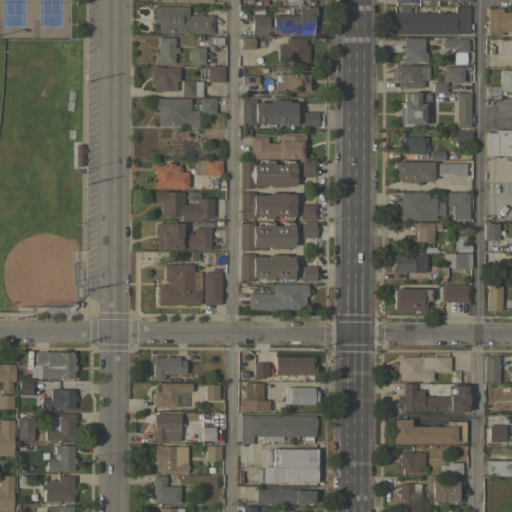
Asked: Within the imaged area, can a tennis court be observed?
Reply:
Yes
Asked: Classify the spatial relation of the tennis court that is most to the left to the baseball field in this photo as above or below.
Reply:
above it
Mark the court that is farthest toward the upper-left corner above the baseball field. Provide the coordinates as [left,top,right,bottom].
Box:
[2,0,28,28]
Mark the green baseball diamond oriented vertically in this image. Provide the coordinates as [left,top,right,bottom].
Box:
[0,41,83,306]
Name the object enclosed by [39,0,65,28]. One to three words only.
tennis court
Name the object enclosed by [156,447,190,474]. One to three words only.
house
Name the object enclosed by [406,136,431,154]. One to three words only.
house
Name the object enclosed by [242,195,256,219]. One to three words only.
building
